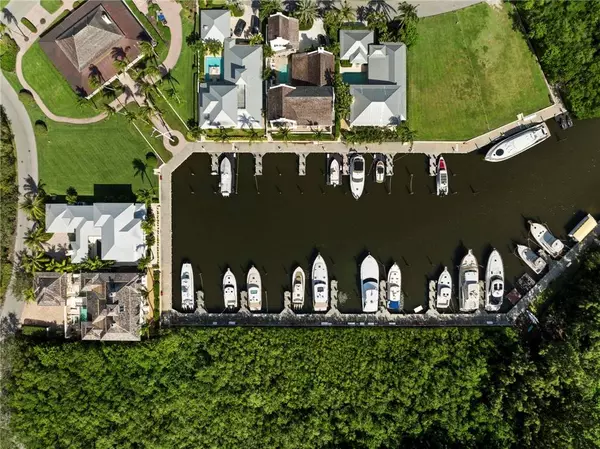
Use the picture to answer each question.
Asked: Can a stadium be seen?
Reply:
No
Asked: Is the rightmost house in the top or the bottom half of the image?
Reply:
top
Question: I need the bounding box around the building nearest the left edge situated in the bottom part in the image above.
[33,273,71,307]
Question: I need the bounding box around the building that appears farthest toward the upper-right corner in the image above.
[340,30,407,128]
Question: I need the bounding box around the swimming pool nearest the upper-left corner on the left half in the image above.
[204,55,223,85]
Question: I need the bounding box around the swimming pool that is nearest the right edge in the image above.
[340,72,368,85]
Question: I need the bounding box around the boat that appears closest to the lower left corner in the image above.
[180,263,199,308]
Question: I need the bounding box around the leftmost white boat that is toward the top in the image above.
[218,157,236,198]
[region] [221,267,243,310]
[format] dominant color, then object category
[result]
white boat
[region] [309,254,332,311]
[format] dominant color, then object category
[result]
white boat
